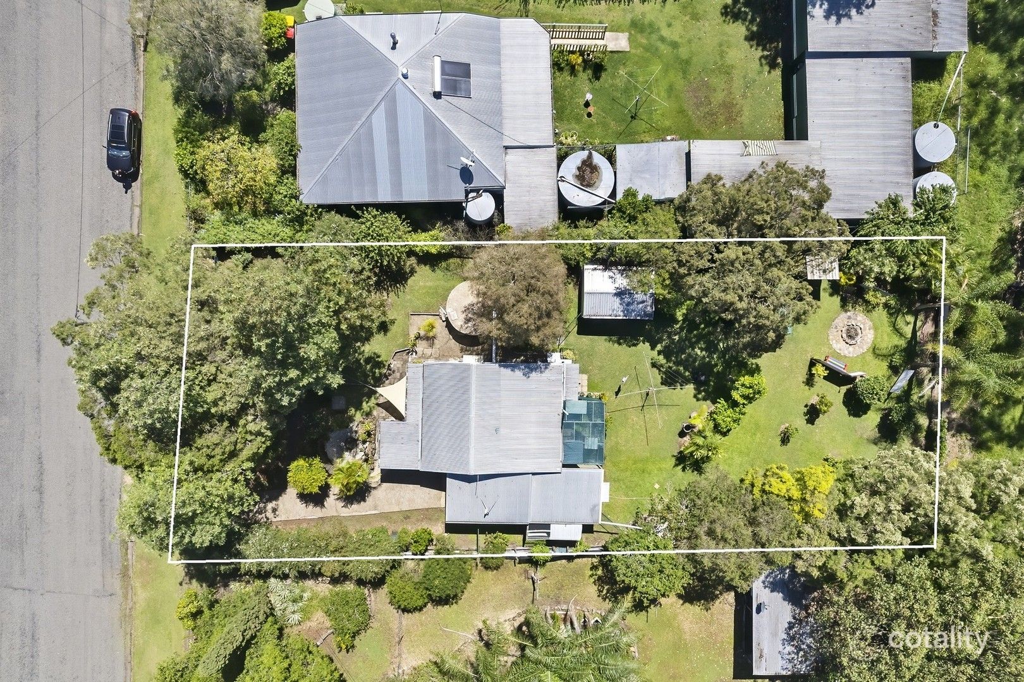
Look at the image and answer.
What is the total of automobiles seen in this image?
1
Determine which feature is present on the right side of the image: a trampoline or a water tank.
water tank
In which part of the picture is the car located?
top left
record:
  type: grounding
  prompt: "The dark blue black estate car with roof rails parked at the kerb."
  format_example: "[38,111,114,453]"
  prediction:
[104,108,143,175]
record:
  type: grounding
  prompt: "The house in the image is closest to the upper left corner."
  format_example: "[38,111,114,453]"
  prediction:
[295,10,558,231]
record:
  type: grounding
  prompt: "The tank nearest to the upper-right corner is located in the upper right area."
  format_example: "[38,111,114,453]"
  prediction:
[913,122,956,171]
